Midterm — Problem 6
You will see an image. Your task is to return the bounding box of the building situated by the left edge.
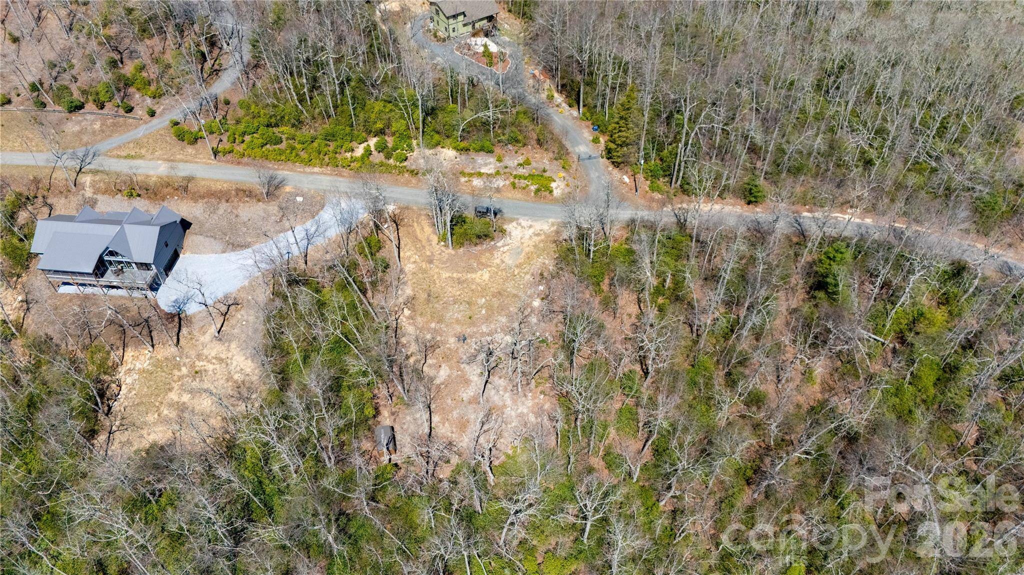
[28,203,187,298]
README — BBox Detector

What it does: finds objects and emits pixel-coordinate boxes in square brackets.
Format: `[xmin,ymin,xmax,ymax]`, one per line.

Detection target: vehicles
[474,203,498,217]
